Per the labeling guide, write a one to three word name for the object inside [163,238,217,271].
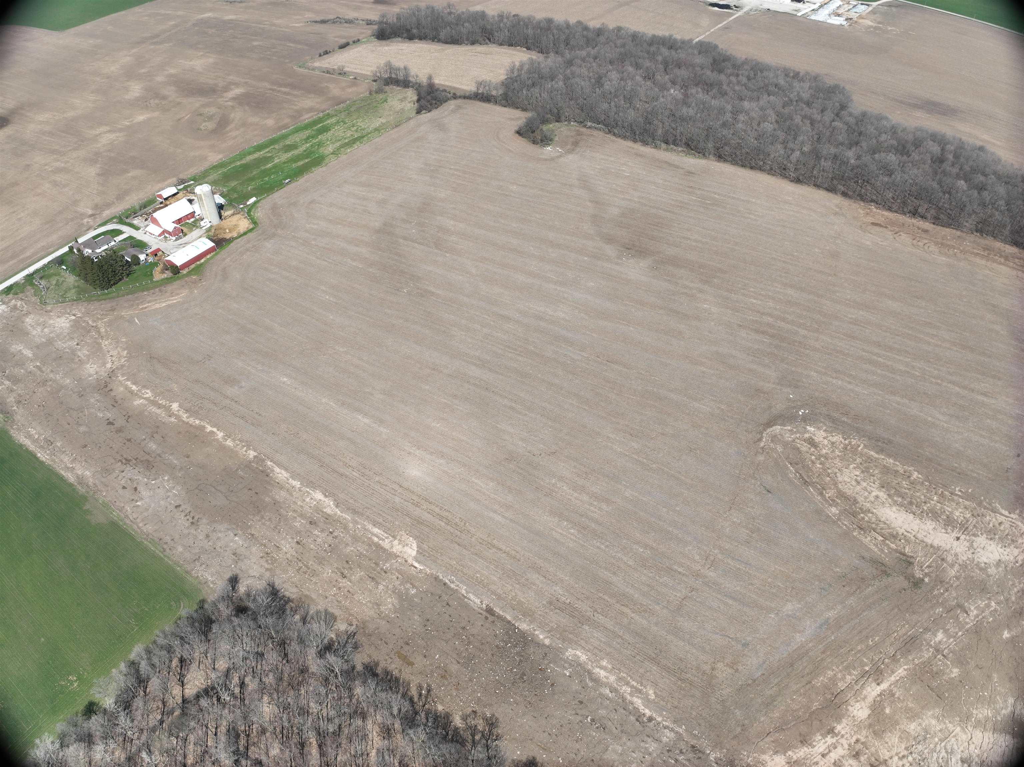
shed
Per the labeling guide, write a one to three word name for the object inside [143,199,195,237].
barn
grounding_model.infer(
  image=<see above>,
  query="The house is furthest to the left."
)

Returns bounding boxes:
[61,234,116,265]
